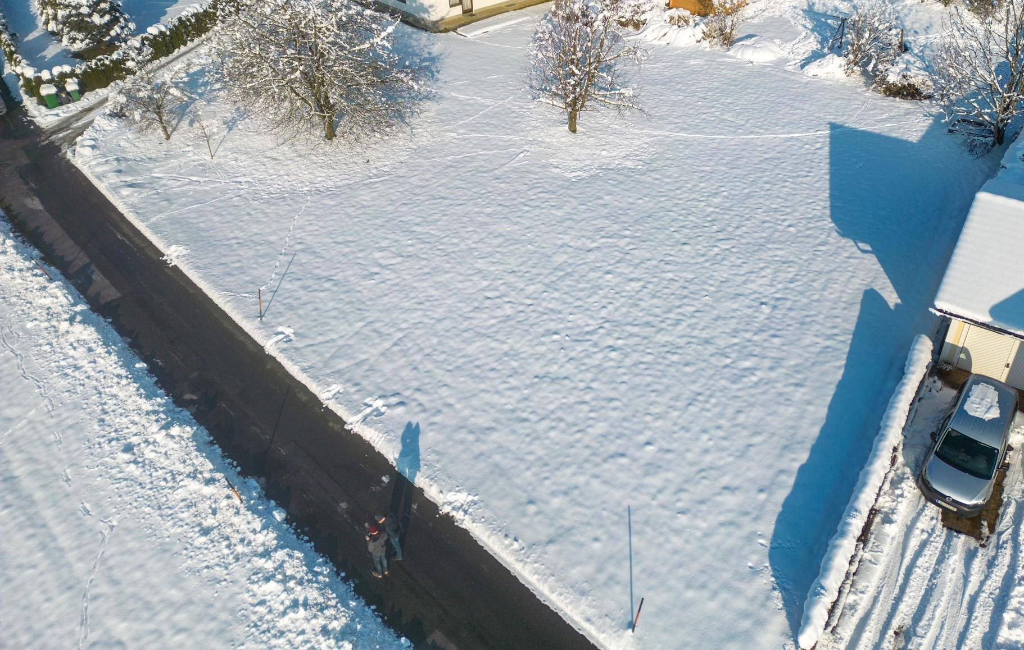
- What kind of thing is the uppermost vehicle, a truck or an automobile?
automobile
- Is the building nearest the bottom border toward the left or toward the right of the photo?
right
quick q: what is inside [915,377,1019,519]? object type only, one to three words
car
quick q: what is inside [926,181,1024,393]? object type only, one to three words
building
